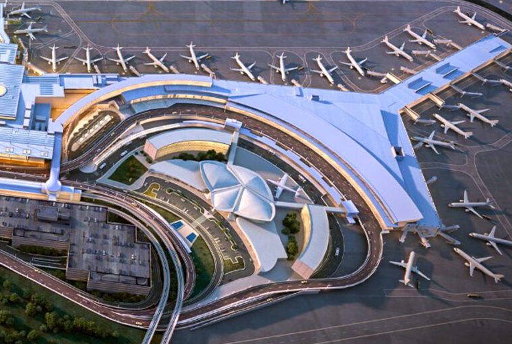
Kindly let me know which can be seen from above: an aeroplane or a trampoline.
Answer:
aeroplane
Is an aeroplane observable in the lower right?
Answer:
Yes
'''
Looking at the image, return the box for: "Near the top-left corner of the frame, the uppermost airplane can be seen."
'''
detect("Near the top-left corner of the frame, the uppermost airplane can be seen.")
[9,0,42,17]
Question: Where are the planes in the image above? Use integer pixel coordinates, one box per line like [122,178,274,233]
[224,49,260,81]
[9,0,42,17]
[262,51,303,82]
[385,252,435,288]
[176,41,212,70]
[452,3,484,30]
[412,129,460,156]
[455,249,507,282]
[469,224,512,256]
[137,44,170,72]
[377,32,413,62]
[15,20,48,39]
[449,186,498,219]
[433,114,474,138]
[303,50,343,84]
[333,43,373,75]
[36,46,73,71]
[461,104,502,125]
[103,42,138,71]
[401,20,436,49]
[70,43,107,71]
